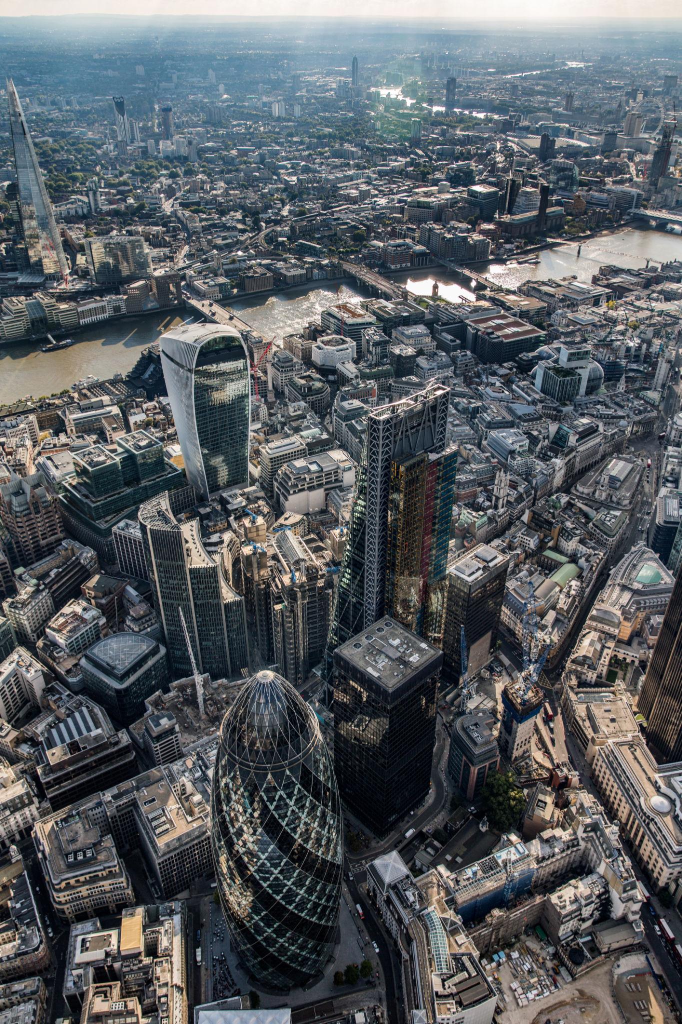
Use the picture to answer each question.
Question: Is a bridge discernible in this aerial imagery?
Yes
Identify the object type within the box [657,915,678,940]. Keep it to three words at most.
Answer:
bus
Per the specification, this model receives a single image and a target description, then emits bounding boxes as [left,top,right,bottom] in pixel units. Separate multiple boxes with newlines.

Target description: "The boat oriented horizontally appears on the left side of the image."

[35,338,78,351]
